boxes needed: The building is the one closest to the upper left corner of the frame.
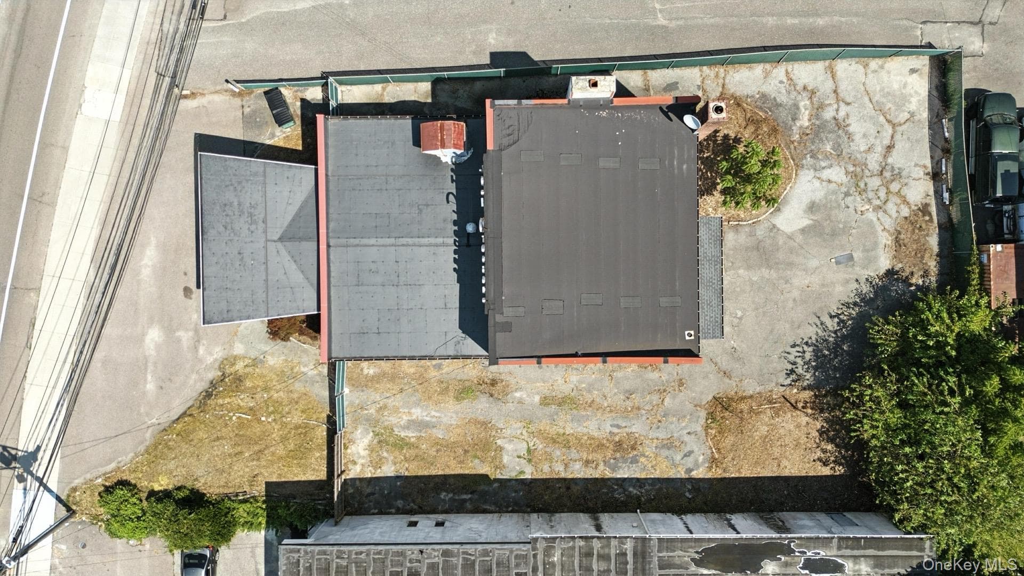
[199,76,728,365]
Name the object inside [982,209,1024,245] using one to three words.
trailer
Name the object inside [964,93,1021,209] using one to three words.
truck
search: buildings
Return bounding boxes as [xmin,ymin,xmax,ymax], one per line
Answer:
[199,76,728,365]
[281,509,933,576]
